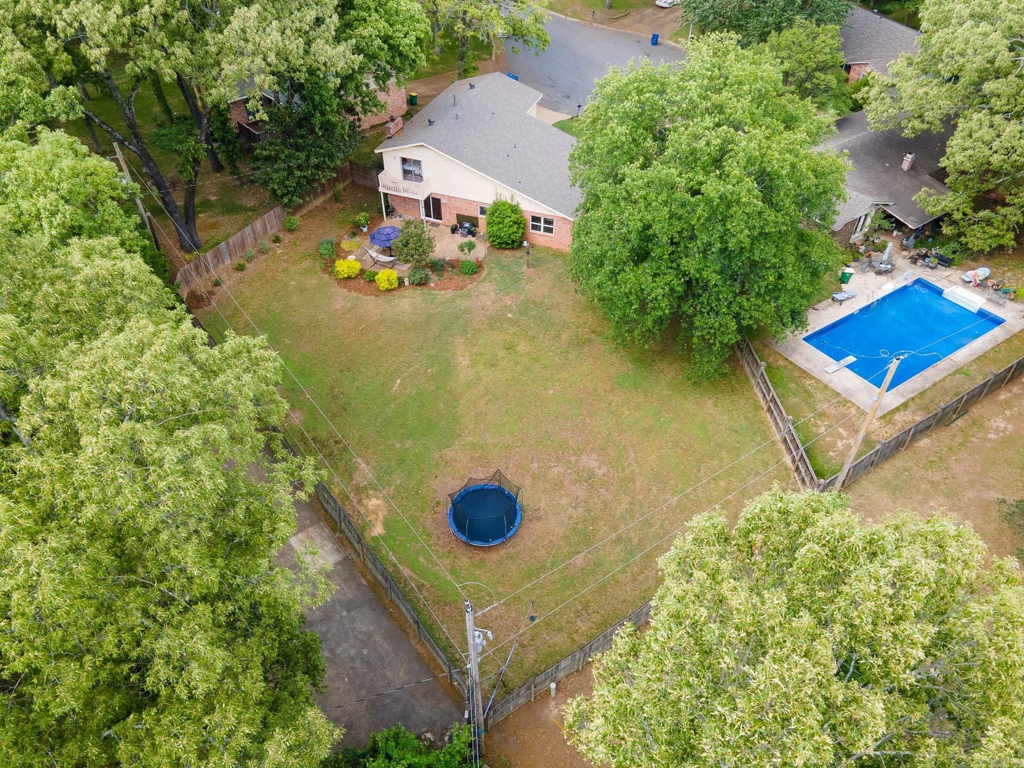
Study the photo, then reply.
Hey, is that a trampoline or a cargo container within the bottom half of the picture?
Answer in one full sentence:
Visible within the bottom half of the picture is a trampoline.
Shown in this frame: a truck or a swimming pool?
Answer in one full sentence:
The image shows a swimming pool.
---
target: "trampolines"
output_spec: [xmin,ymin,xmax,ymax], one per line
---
[444,466,525,554]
